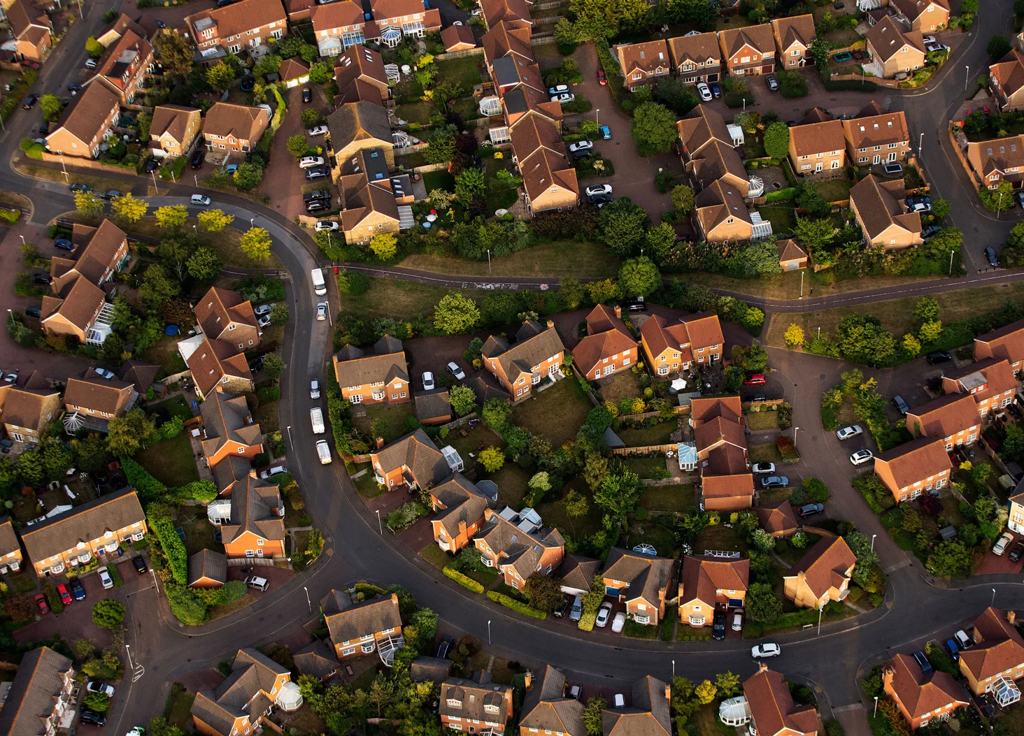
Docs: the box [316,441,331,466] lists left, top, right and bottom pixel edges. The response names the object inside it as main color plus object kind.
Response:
white vehicle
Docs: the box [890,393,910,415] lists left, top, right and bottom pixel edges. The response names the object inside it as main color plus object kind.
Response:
black car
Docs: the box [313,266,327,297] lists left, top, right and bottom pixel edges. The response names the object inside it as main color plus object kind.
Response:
white vehicle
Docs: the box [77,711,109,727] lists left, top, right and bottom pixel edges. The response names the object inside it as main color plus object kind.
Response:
black car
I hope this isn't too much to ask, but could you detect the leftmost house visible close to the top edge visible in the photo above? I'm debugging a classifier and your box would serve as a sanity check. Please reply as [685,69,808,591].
[2,0,50,61]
